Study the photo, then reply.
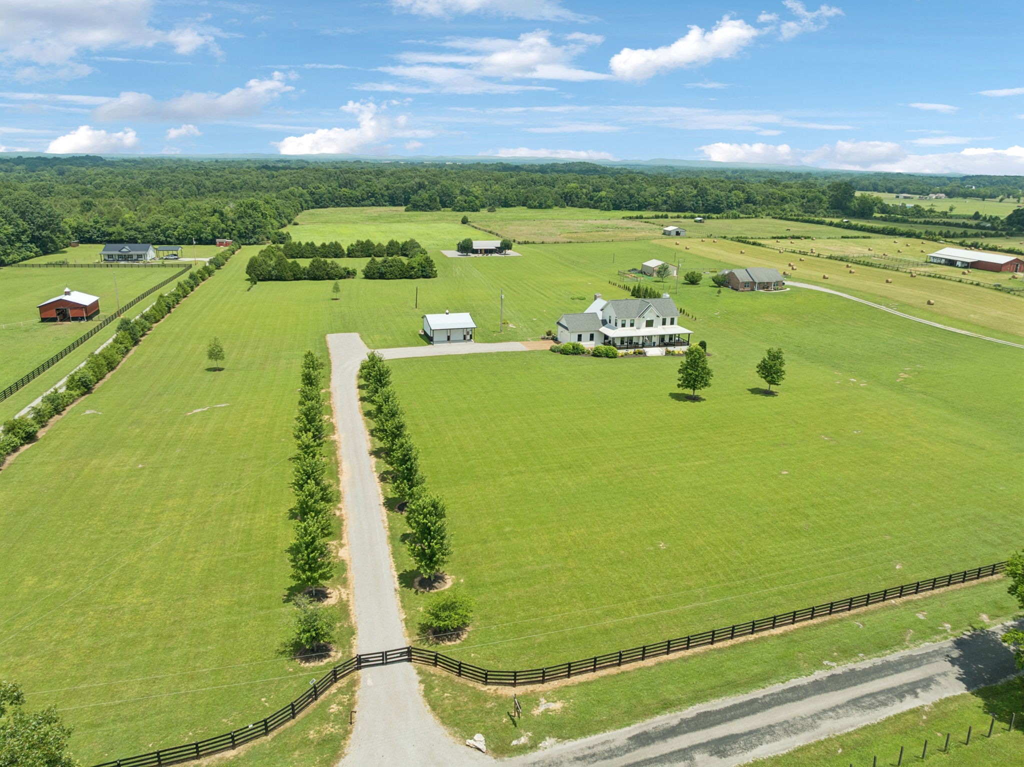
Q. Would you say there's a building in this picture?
Yes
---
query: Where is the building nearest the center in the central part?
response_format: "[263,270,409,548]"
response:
[421,308,478,345]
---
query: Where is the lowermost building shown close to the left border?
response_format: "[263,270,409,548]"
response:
[37,287,101,322]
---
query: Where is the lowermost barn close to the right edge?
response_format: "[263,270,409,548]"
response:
[924,249,1022,272]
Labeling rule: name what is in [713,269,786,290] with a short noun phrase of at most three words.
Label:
house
